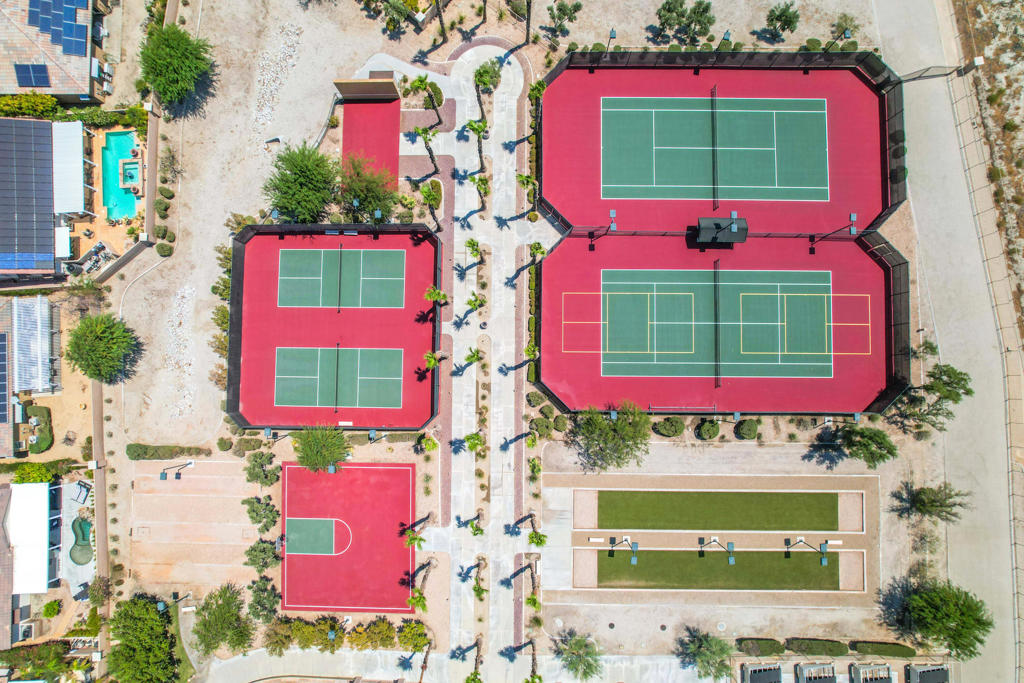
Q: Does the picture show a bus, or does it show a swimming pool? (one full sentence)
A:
The image shows a swimming pool.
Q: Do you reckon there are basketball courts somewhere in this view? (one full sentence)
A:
Yes, I can see a basketball court in this picture.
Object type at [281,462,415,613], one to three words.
basketball court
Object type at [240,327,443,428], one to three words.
sports court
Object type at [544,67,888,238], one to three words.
tennis court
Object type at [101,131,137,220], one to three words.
swimming pool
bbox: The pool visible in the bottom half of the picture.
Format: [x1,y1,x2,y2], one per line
[68,517,94,567]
